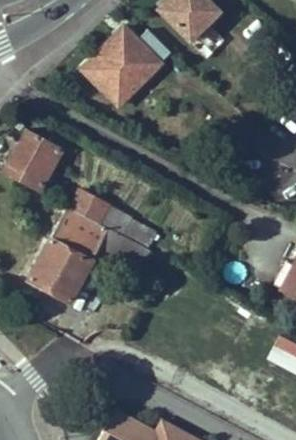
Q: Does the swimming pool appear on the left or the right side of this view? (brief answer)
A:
right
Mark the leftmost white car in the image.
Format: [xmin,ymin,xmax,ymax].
[72,294,87,314]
